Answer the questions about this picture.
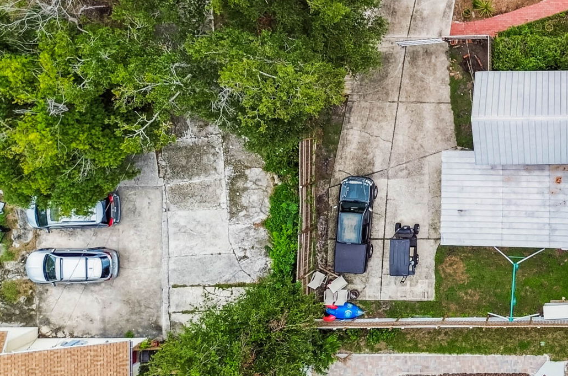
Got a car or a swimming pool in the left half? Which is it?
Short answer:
car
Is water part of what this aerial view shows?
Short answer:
No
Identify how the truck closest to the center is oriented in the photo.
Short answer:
from top to bottom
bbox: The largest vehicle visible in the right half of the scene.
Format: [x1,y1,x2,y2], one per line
[328,171,377,278]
